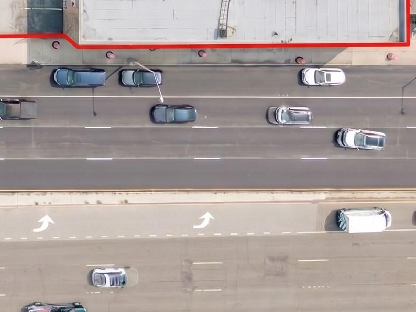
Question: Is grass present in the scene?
No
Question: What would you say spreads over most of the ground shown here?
paved ground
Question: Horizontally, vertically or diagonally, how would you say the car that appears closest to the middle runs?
horizontally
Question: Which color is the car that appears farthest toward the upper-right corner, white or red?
white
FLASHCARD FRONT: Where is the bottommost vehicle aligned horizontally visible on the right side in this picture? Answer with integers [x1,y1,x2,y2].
[335,208,392,237]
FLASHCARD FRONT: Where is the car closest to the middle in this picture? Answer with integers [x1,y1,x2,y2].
[151,104,198,126]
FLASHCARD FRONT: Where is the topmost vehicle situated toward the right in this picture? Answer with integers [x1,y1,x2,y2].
[300,66,347,88]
